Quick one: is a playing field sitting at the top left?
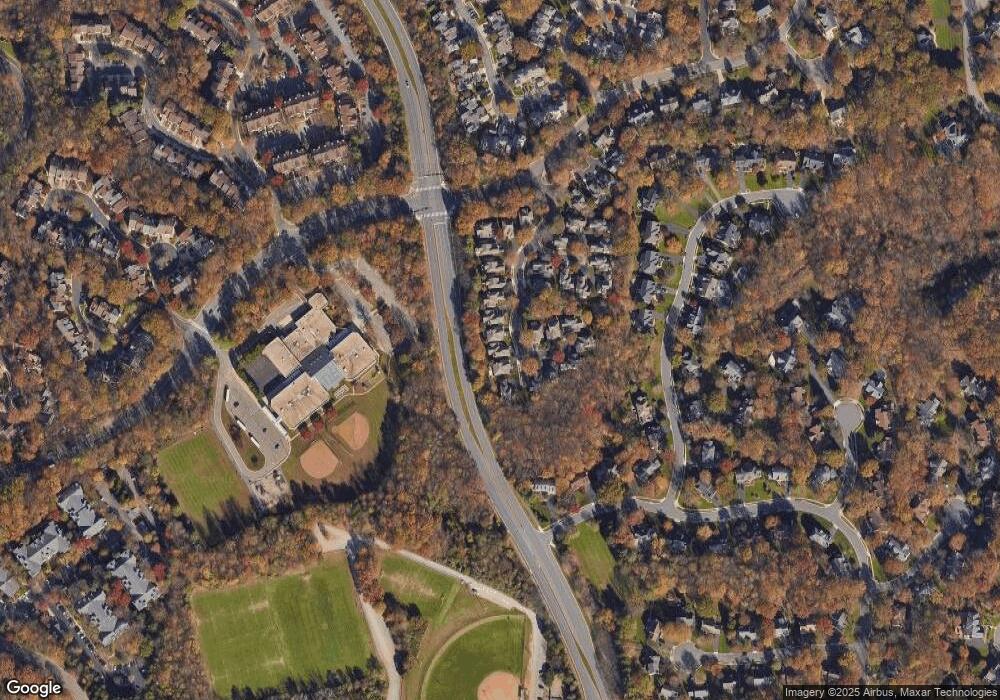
No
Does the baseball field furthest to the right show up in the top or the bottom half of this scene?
bottom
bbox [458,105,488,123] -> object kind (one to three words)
house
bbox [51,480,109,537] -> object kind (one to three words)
building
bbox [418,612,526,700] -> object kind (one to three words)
baseball field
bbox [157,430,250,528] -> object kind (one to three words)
sports field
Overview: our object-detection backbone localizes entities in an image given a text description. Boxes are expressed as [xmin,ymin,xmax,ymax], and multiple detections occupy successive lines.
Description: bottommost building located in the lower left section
[75,588,132,645]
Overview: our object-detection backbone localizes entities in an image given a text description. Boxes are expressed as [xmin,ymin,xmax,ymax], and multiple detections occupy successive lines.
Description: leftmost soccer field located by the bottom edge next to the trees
[189,550,377,700]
